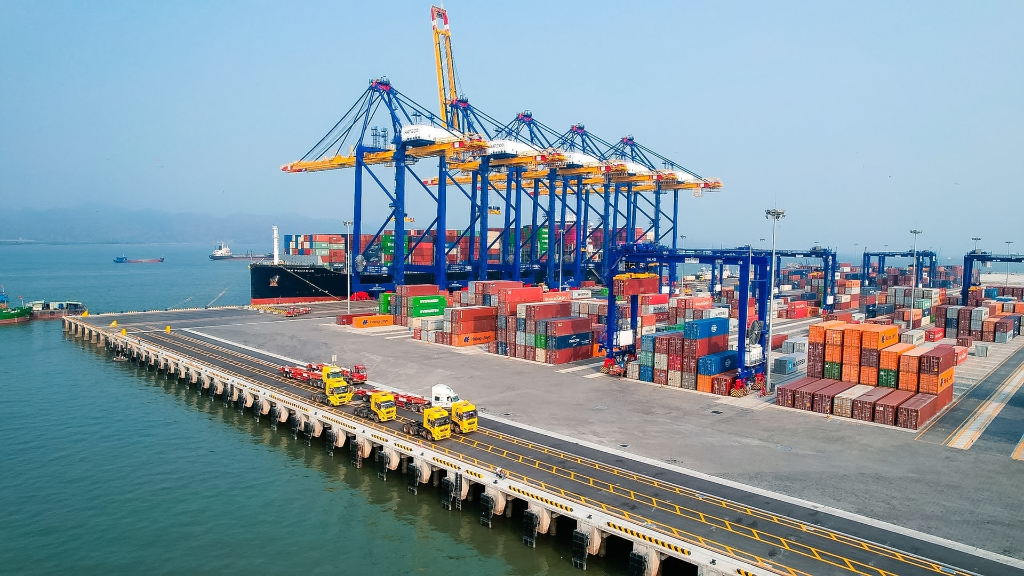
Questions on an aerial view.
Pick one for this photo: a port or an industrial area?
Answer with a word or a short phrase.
port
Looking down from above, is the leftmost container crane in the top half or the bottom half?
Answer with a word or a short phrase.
top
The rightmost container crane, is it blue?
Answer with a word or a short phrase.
Yes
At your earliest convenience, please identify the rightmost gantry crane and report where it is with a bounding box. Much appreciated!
[961,249,1024,304]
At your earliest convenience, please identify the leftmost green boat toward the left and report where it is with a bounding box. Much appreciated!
[0,287,32,321]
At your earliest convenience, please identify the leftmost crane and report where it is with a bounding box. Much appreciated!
[278,71,496,303]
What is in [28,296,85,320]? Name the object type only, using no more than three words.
ship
